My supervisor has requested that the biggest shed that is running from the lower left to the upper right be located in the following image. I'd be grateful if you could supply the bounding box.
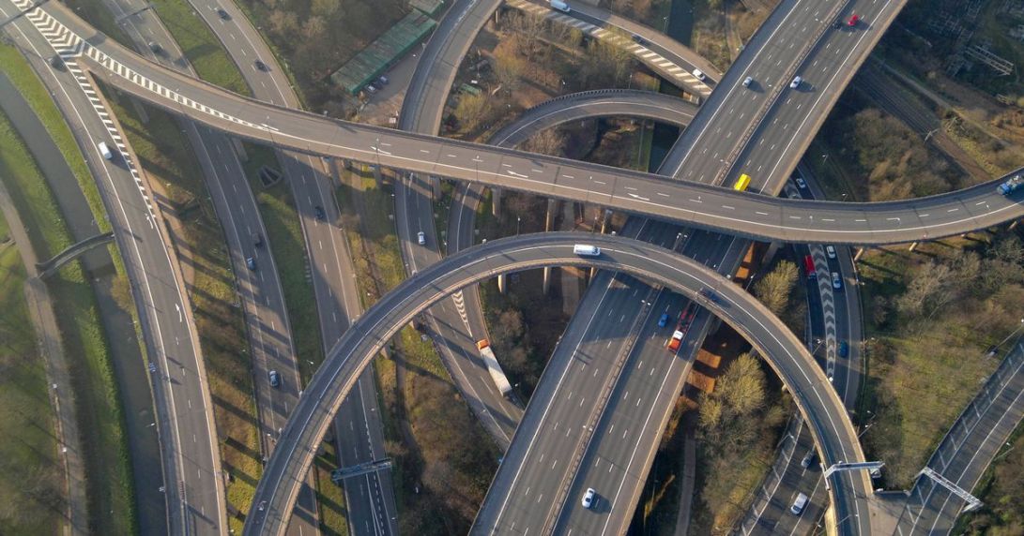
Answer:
[330,10,436,97]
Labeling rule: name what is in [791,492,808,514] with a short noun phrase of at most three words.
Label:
vehicle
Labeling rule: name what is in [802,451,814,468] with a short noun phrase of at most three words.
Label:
vehicle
